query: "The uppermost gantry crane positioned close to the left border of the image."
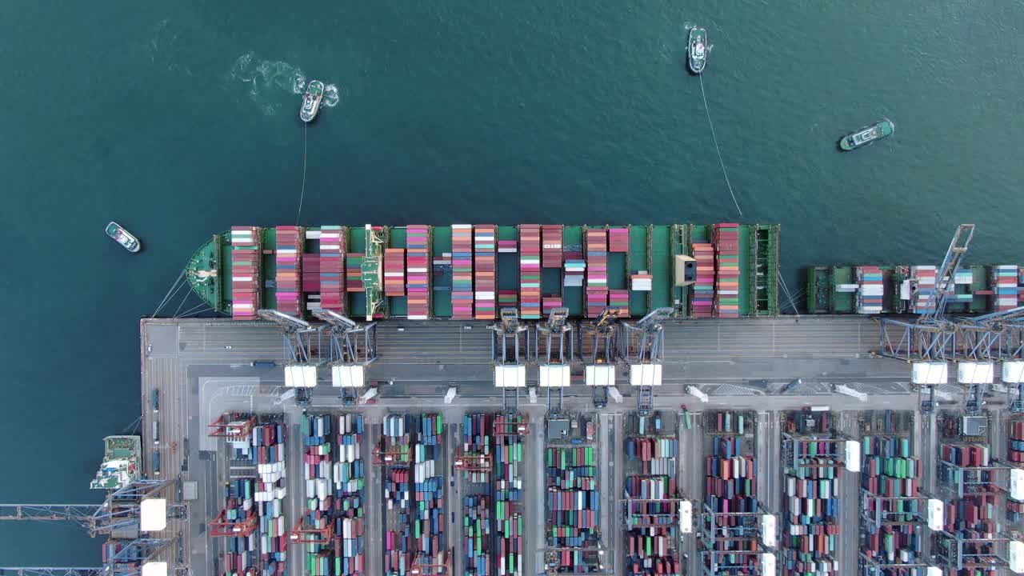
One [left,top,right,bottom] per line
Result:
[0,469,197,535]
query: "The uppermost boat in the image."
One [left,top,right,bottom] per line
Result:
[688,27,707,73]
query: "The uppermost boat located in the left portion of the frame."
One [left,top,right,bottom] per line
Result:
[300,79,326,123]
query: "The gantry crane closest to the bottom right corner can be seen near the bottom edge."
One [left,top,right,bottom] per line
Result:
[933,531,1024,575]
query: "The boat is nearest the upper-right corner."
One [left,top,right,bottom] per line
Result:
[839,116,895,151]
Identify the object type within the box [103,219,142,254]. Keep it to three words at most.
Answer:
boat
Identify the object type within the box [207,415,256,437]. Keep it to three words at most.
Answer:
container crane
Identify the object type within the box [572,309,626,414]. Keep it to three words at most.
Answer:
container crane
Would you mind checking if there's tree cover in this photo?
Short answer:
No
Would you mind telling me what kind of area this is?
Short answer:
port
